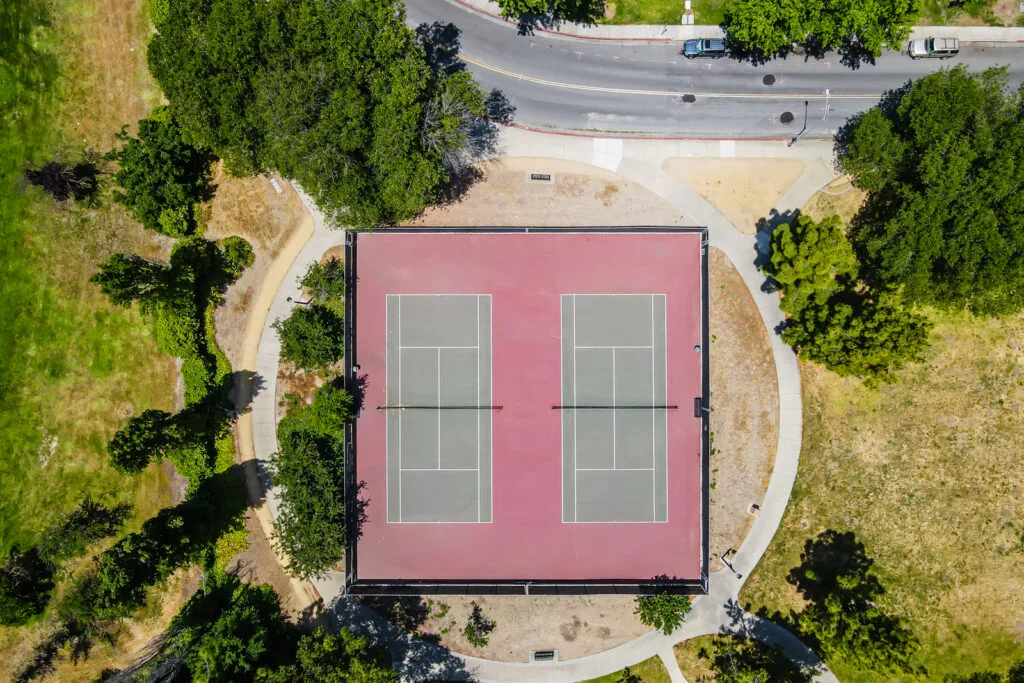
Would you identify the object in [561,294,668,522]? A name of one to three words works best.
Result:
tennis court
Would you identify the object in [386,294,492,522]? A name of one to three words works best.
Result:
tennis court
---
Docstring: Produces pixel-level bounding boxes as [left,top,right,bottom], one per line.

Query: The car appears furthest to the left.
[683,36,727,59]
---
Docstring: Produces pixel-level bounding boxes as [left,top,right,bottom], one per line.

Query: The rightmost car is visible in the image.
[907,36,958,59]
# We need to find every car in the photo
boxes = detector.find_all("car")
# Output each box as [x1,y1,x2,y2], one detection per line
[907,36,958,59]
[683,36,727,59]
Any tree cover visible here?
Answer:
Yes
